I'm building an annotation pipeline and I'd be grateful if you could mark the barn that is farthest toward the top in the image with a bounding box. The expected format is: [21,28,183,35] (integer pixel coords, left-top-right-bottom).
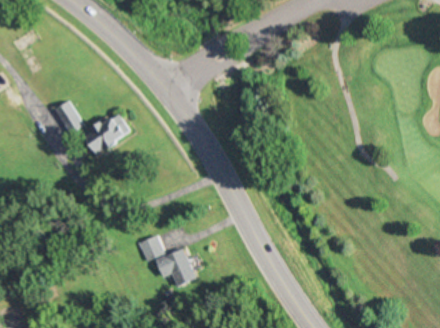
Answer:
[54,100,82,131]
